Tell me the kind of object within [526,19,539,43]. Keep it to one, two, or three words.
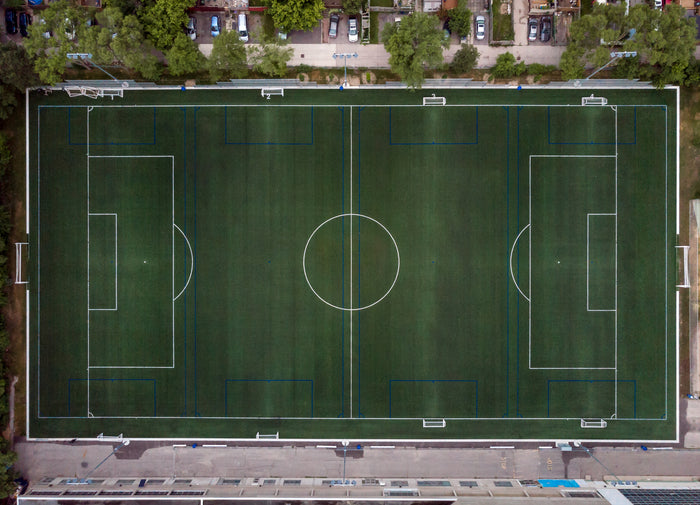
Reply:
vehicle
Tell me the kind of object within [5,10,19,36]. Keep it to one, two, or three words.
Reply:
car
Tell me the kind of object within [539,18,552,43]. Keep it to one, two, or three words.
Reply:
vehicle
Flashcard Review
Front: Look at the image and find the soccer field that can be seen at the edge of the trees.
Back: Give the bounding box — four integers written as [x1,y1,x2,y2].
[28,90,678,439]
